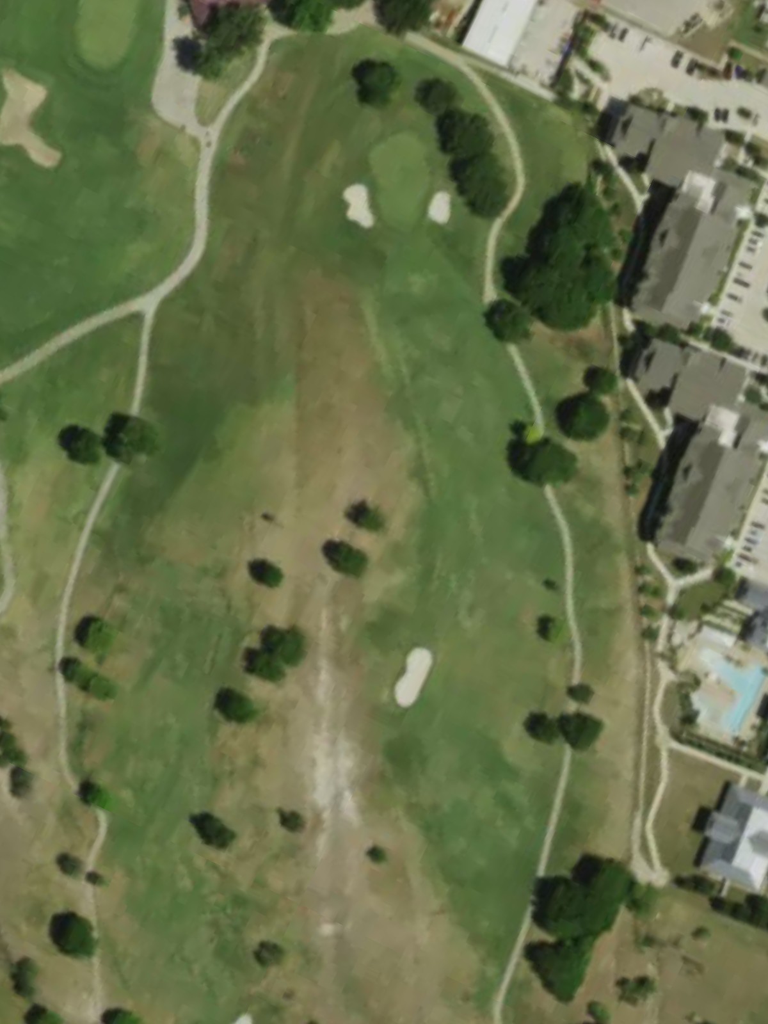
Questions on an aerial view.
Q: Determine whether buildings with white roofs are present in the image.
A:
Yes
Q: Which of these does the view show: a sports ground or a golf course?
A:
golf course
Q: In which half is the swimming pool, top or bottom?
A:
bottom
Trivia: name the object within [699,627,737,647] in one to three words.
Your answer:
building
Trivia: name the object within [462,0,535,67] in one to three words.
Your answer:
building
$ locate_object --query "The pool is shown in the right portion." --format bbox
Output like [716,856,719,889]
[675,624,768,756]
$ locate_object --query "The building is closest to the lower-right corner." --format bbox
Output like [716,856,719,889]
[700,782,768,897]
